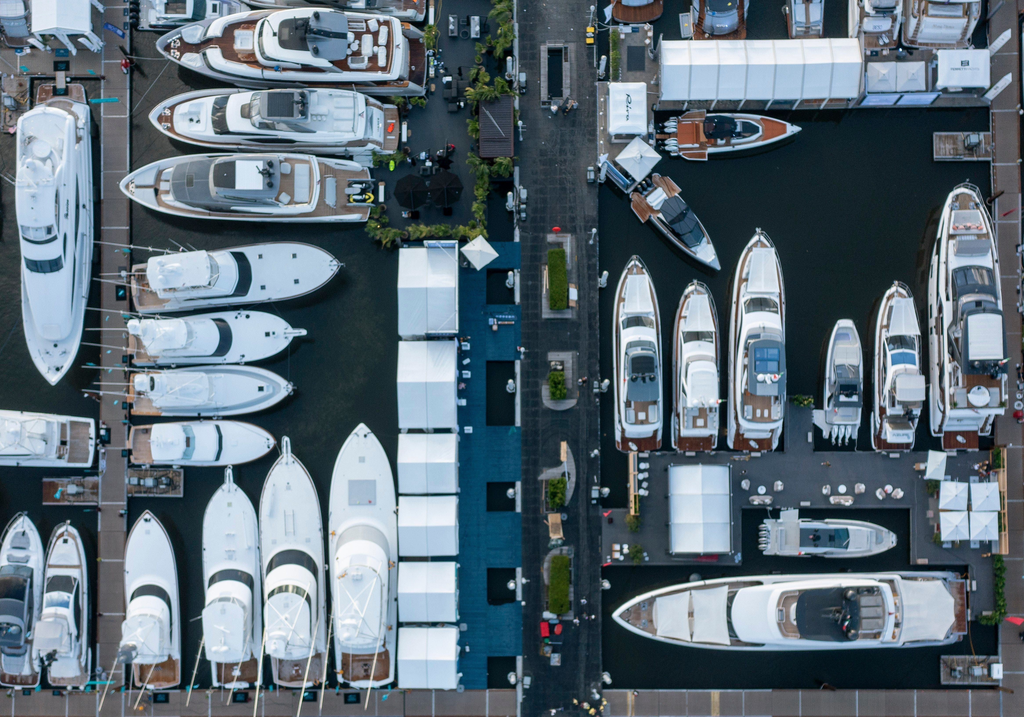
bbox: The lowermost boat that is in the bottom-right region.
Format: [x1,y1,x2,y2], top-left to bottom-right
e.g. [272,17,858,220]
[613,572,968,650]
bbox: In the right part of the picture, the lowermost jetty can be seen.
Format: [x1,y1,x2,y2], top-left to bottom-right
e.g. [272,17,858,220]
[603,689,999,716]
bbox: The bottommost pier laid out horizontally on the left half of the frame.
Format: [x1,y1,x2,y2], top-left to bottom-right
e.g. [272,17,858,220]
[0,689,519,716]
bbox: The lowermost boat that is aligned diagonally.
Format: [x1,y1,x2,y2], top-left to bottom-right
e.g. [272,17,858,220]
[630,174,721,271]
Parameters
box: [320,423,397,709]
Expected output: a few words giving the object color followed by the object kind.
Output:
white boat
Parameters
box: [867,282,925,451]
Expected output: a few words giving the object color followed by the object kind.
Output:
white boat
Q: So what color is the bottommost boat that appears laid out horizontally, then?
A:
white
